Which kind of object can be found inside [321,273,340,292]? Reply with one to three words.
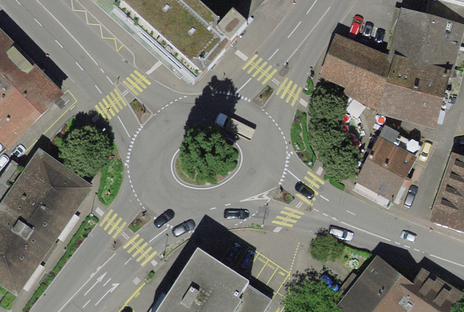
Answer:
car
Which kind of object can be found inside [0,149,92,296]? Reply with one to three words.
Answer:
building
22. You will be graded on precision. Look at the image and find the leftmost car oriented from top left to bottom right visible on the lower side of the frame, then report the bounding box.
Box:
[294,180,316,201]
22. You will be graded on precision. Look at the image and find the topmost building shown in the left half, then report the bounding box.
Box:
[104,0,248,87]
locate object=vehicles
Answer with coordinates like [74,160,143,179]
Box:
[452,136,464,146]
[172,220,196,238]
[362,20,374,39]
[374,26,386,45]
[401,230,416,242]
[154,209,176,230]
[294,180,316,201]
[225,208,249,220]
[239,249,258,270]
[10,142,28,160]
[329,226,354,242]
[214,112,258,141]
[321,273,340,292]
[404,186,418,208]
[0,153,12,172]
[350,14,364,36]
[420,140,433,162]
